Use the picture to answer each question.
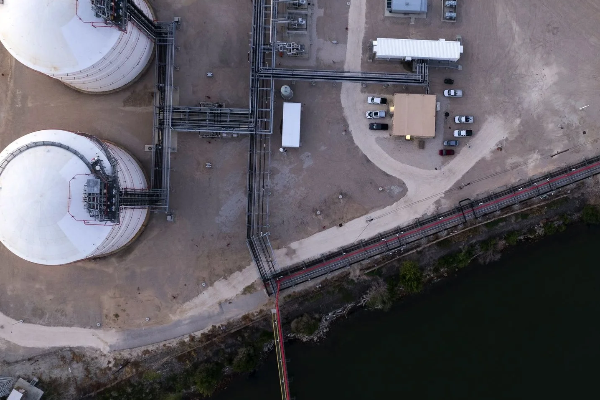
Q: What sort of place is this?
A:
industrial area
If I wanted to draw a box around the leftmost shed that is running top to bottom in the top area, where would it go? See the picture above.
[282,102,303,148]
